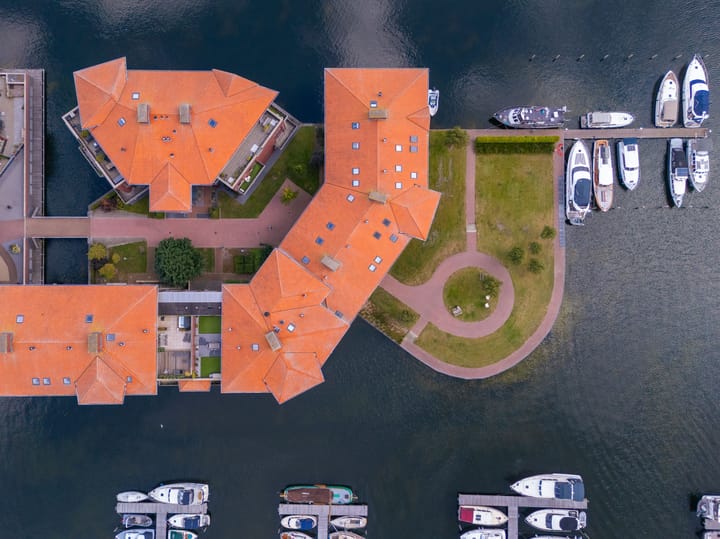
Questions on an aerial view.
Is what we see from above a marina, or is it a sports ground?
marina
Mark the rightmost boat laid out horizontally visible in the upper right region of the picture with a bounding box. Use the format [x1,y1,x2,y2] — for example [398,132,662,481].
[572,111,641,130]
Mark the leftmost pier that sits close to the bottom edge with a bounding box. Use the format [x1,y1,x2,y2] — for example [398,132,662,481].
[112,502,209,539]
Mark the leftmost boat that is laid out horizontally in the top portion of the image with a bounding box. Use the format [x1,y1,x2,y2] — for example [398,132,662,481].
[486,106,573,131]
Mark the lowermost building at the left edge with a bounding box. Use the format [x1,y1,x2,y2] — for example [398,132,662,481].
[0,285,163,404]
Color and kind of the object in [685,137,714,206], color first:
white boat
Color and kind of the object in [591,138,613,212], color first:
white boat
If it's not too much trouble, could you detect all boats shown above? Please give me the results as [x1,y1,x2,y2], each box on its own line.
[330,528,366,539]
[461,526,507,539]
[429,89,439,116]
[148,481,212,505]
[526,508,579,532]
[591,138,613,212]
[561,138,590,227]
[168,528,197,539]
[167,512,210,530]
[117,491,148,502]
[330,514,367,539]
[692,493,720,519]
[685,137,714,206]
[666,137,690,208]
[701,529,720,539]
[281,514,317,531]
[281,529,314,539]
[458,505,508,526]
[614,137,642,207]
[120,513,152,528]
[579,511,588,526]
[510,473,586,502]
[486,106,573,131]
[572,111,641,130]
[652,70,681,129]
[115,527,155,539]
[678,55,708,129]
